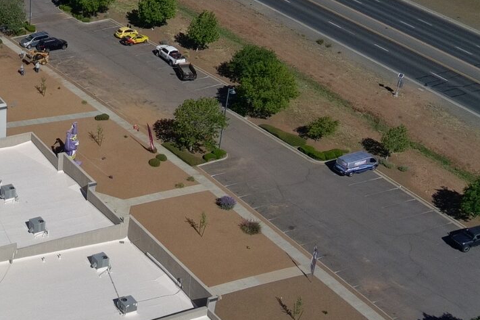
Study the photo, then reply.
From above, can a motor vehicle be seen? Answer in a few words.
Yes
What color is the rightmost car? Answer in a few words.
black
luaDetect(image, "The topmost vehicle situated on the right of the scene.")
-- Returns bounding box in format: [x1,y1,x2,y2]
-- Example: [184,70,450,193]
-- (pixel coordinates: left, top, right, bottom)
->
[333,152,379,177]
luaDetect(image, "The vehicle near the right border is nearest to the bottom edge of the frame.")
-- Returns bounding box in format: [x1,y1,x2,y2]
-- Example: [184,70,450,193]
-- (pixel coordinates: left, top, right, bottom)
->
[446,222,480,252]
